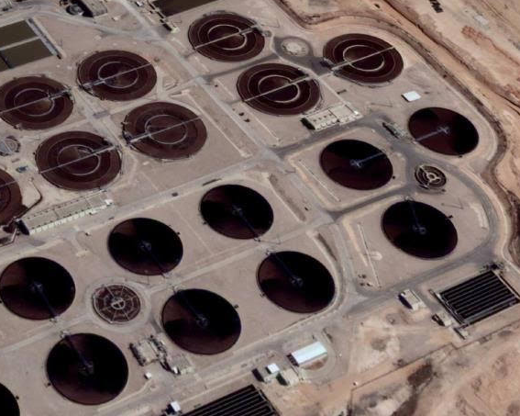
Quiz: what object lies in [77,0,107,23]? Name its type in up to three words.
building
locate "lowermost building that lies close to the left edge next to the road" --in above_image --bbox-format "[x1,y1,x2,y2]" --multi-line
[22,190,106,238]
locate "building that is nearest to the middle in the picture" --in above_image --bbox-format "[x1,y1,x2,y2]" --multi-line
[305,111,337,136]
